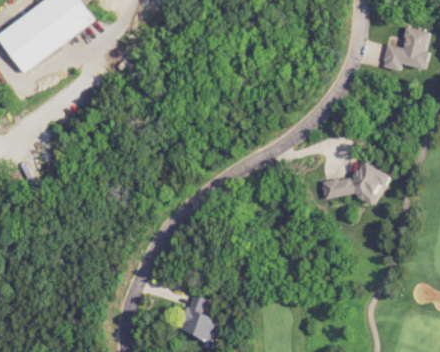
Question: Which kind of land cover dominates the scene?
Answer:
trees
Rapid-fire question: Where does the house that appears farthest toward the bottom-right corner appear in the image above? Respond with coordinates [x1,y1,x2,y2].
[322,162,393,206]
